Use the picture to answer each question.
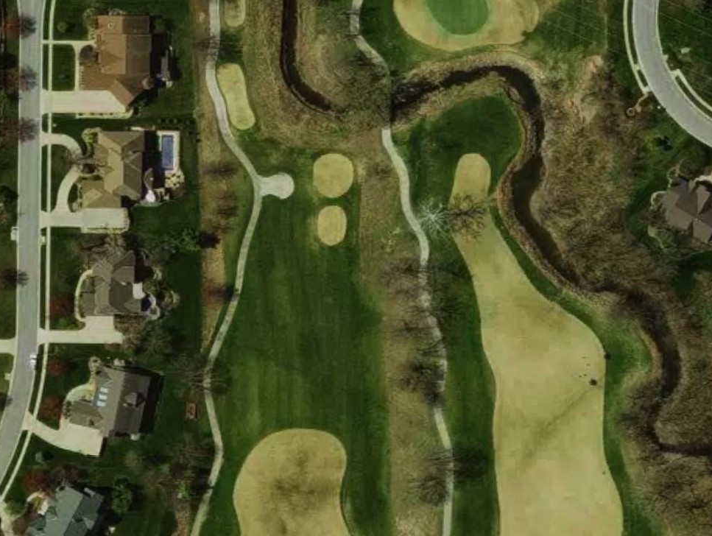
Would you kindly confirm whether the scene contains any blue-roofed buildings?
No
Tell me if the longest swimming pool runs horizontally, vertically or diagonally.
vertically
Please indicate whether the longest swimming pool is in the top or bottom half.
top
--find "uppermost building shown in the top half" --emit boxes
[83,13,168,108]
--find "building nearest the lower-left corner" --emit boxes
[18,480,107,536]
